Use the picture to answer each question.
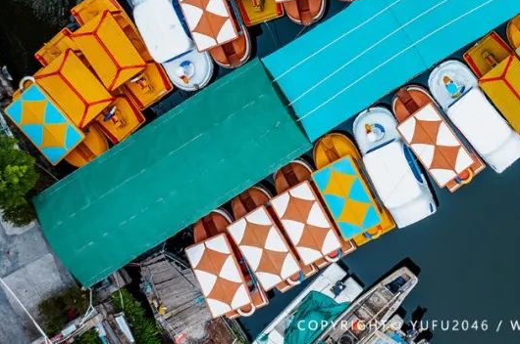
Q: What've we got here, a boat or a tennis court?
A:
boat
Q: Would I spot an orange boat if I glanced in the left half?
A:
Yes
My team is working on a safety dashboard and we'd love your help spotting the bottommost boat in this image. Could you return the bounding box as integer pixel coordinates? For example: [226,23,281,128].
[363,311,409,344]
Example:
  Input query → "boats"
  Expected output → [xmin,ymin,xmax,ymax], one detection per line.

[131,0,213,99]
[238,0,284,43]
[32,27,148,143]
[363,311,409,344]
[172,0,244,71]
[322,269,417,344]
[187,208,271,322]
[273,159,361,274]
[272,0,324,27]
[1,62,112,165]
[65,0,174,117]
[355,105,435,227]
[393,85,487,192]
[464,33,520,131]
[231,185,320,295]
[246,263,366,344]
[431,57,520,171]
[312,131,396,245]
